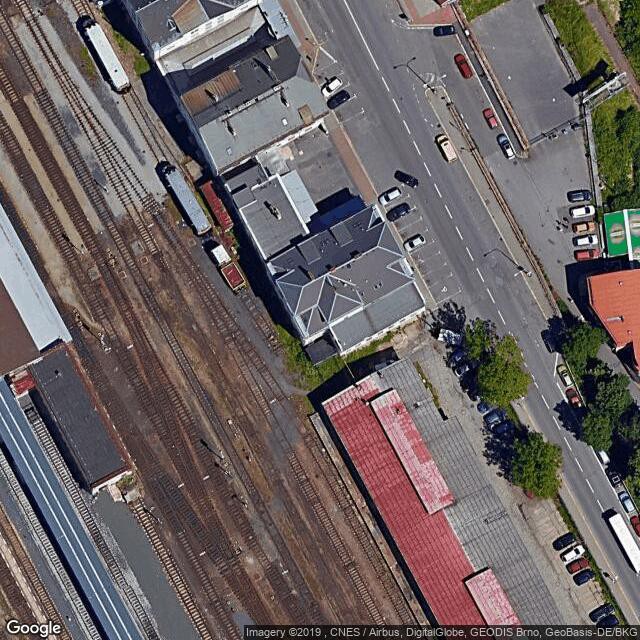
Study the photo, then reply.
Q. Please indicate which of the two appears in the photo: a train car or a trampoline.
train car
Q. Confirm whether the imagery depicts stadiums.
No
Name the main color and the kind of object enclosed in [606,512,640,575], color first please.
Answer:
white bus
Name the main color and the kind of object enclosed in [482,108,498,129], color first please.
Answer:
red car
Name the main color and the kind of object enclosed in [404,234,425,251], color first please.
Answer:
white car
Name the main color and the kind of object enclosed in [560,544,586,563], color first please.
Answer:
white car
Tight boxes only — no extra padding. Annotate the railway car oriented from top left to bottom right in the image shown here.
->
[198,182,235,234]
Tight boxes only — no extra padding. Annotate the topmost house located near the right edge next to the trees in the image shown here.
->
[587,268,640,379]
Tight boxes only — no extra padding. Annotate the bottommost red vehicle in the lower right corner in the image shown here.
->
[568,557,589,574]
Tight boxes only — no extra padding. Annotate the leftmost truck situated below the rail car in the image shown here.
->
[209,242,244,293]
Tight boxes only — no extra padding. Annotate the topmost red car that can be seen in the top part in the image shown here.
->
[456,54,471,78]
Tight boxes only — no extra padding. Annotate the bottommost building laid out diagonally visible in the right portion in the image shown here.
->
[322,358,577,640]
